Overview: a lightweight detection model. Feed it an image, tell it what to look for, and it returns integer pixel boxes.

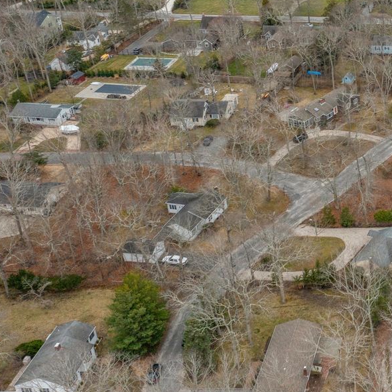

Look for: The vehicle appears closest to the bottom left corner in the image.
[143,360,164,388]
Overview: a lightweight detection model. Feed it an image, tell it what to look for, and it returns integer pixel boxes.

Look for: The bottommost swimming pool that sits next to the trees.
[75,82,147,100]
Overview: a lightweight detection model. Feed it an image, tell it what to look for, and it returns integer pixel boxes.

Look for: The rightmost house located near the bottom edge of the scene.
[253,318,329,392]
